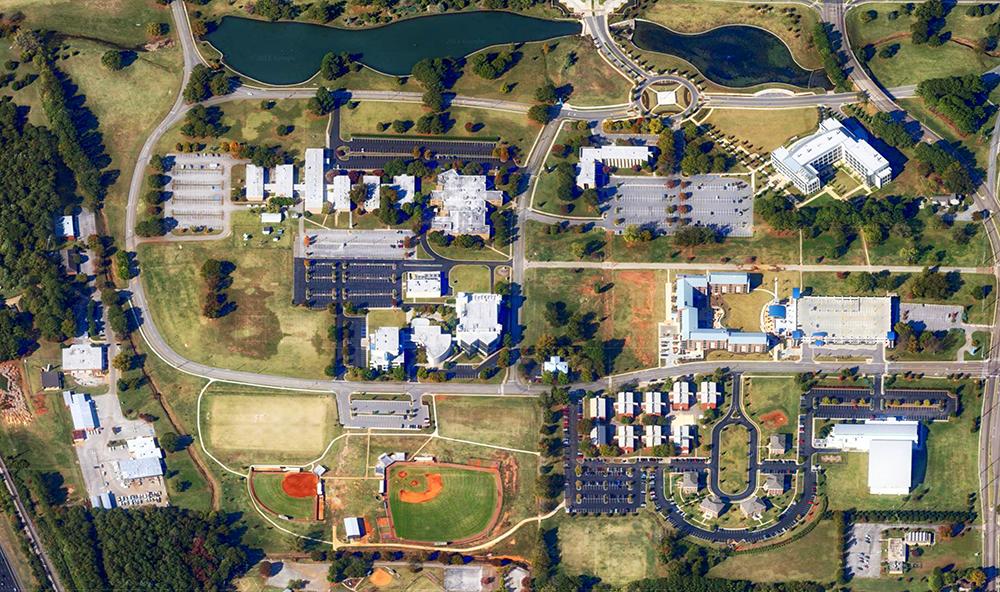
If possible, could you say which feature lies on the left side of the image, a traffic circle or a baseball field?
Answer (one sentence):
Looking on the left side of the image, you will find a baseball field.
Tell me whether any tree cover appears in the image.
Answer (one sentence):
Yes, some tree cover is visible.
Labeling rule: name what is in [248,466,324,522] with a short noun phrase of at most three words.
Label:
baseball field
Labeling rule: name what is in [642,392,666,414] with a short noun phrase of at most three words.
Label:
house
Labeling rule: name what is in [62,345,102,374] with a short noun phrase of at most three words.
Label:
building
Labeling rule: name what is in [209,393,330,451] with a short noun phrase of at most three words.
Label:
sports field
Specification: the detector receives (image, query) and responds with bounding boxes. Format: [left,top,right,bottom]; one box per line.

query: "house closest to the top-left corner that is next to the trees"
[57,216,74,238]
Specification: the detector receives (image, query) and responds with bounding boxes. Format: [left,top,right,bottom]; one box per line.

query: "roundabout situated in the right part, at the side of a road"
[634,74,699,120]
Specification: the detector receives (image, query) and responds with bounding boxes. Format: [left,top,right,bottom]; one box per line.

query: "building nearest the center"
[457,292,502,354]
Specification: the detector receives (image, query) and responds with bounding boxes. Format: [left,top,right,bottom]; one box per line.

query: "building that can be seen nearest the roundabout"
[577,147,653,189]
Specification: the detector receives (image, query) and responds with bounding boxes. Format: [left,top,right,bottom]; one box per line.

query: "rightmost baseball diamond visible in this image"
[376,457,502,545]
